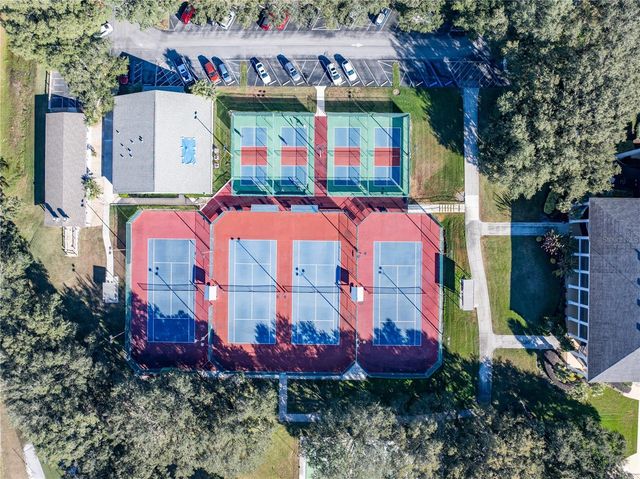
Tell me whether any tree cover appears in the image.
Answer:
Yes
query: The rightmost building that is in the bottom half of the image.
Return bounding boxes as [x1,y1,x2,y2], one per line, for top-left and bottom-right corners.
[561,197,640,383]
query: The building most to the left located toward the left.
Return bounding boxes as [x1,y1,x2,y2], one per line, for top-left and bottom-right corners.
[46,110,94,227]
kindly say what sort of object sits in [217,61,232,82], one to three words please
car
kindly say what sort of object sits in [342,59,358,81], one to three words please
car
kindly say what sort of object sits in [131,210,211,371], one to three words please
tennis court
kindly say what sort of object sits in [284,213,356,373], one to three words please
tennis court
